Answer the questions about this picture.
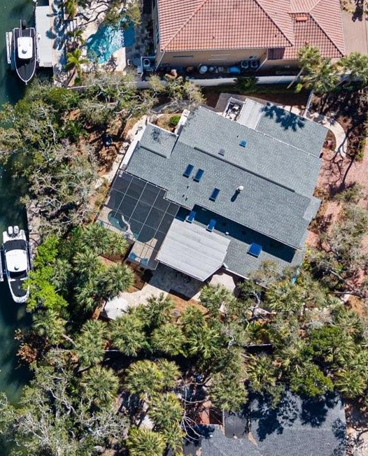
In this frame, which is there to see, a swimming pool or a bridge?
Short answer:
swimming pool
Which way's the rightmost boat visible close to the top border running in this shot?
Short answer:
vertically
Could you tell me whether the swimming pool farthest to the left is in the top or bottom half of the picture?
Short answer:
top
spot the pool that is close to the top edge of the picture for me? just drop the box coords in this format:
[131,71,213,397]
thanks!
[85,13,138,67]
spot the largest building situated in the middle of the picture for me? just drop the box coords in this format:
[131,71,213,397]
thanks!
[112,98,328,297]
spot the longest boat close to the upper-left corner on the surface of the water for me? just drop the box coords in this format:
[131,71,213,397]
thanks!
[14,21,36,84]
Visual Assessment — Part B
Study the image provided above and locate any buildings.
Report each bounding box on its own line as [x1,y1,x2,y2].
[152,0,345,70]
[112,98,328,297]
[182,391,346,456]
